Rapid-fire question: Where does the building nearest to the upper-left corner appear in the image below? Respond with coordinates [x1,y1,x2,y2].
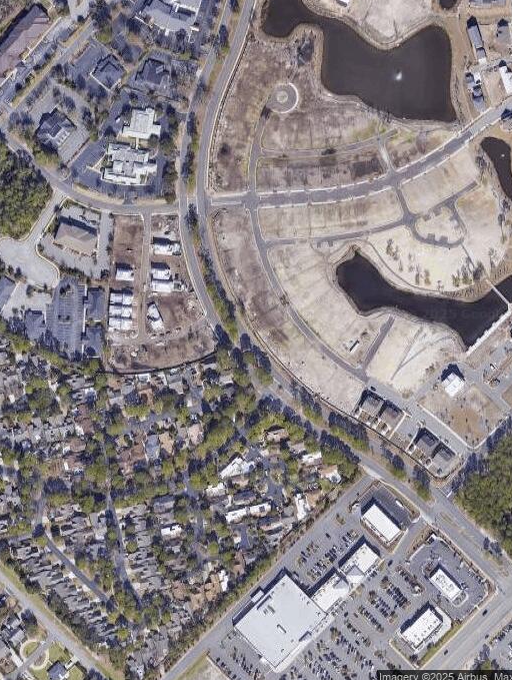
[0,5,50,84]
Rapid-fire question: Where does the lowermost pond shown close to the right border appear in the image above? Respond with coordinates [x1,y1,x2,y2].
[337,251,512,350]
